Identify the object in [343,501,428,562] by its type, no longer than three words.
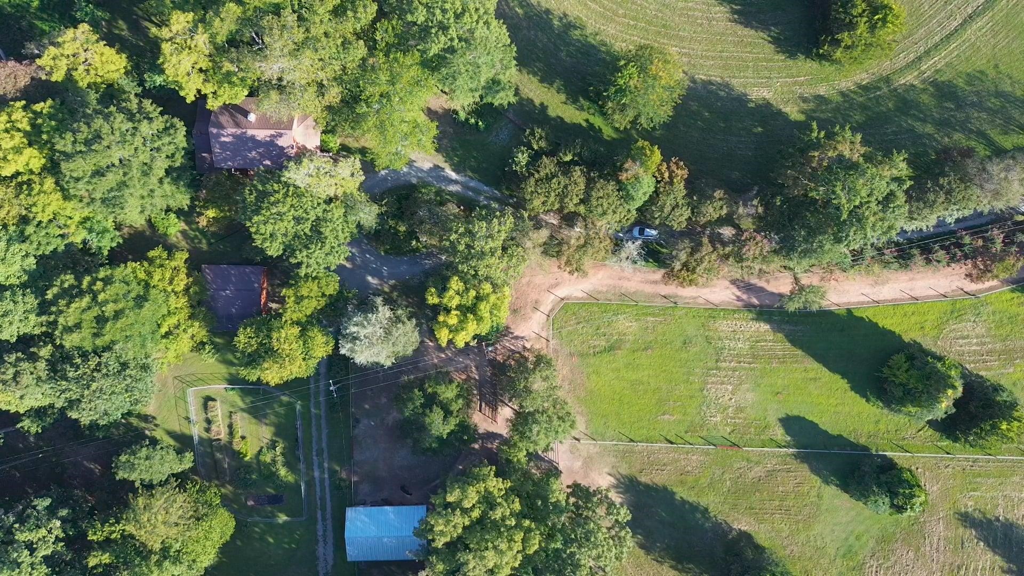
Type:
barn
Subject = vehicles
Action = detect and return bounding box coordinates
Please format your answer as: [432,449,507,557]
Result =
[631,226,659,239]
